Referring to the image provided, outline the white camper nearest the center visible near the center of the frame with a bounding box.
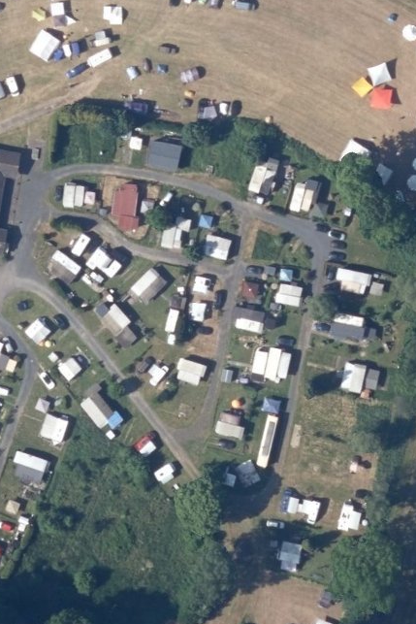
[190,303,209,321]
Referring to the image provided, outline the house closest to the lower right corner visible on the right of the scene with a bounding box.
[281,540,302,572]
